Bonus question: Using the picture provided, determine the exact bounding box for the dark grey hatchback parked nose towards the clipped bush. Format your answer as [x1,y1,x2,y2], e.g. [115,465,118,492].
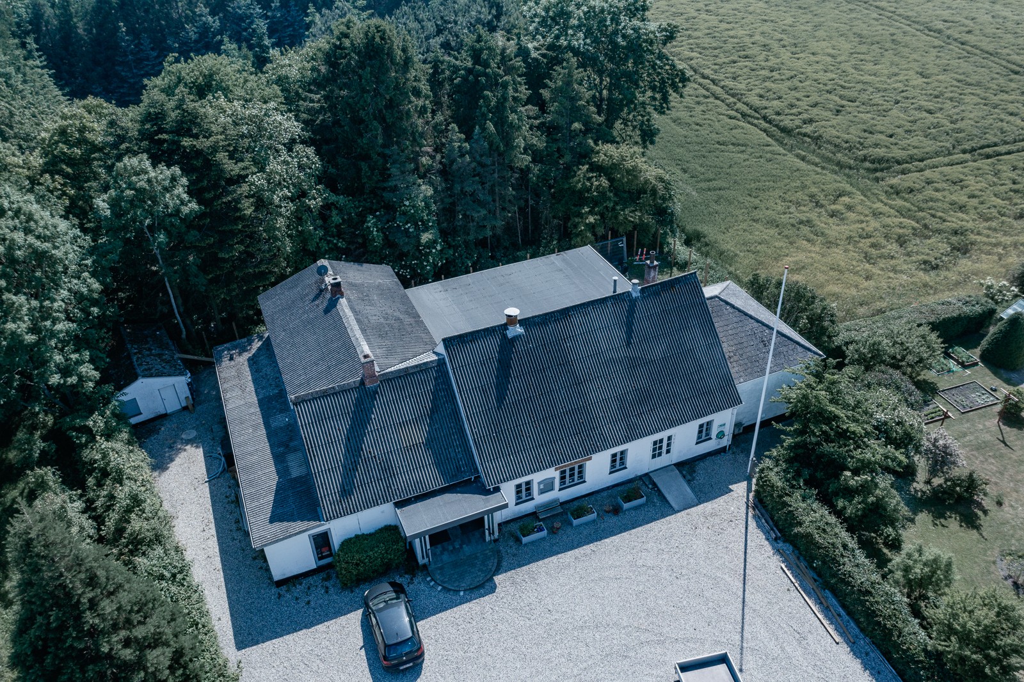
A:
[363,581,428,679]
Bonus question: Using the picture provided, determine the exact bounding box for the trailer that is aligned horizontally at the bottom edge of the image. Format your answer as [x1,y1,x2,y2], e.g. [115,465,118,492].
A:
[673,648,745,682]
